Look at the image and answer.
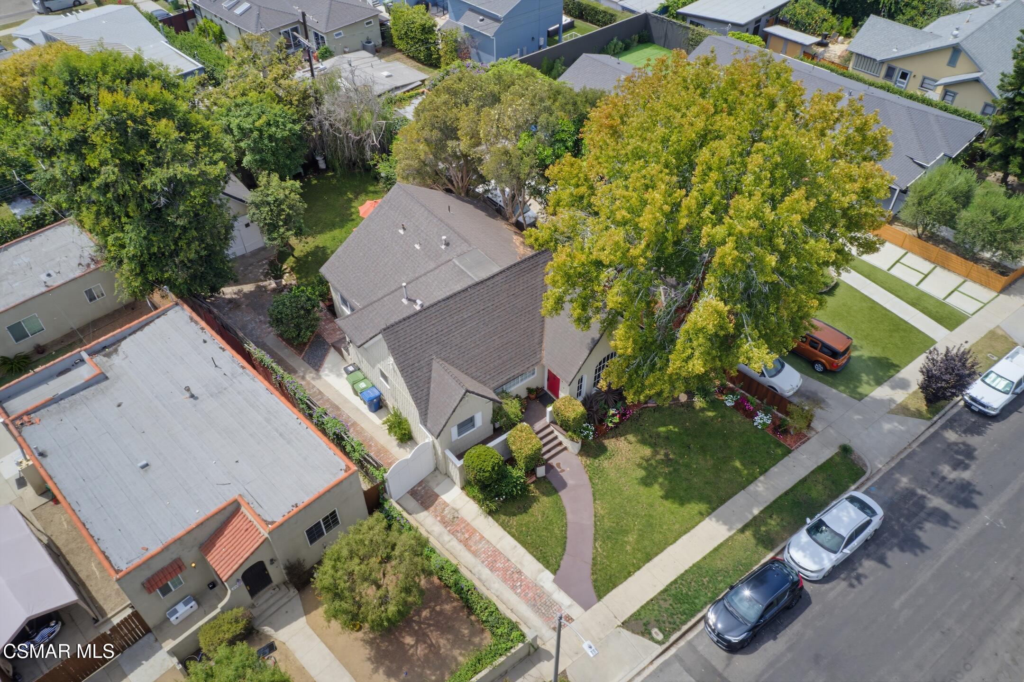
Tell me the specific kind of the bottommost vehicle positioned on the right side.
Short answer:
automobile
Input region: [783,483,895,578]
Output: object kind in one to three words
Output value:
car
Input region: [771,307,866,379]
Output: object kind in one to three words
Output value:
car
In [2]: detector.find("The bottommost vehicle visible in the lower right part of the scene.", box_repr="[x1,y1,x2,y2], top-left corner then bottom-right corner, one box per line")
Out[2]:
[700,548,812,653]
